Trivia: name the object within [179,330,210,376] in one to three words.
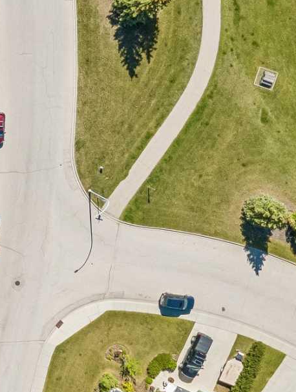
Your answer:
truck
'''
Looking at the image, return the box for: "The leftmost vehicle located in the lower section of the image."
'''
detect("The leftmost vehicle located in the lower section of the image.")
[158,292,193,312]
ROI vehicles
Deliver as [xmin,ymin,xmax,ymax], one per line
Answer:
[179,330,210,376]
[0,112,6,146]
[158,292,193,312]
